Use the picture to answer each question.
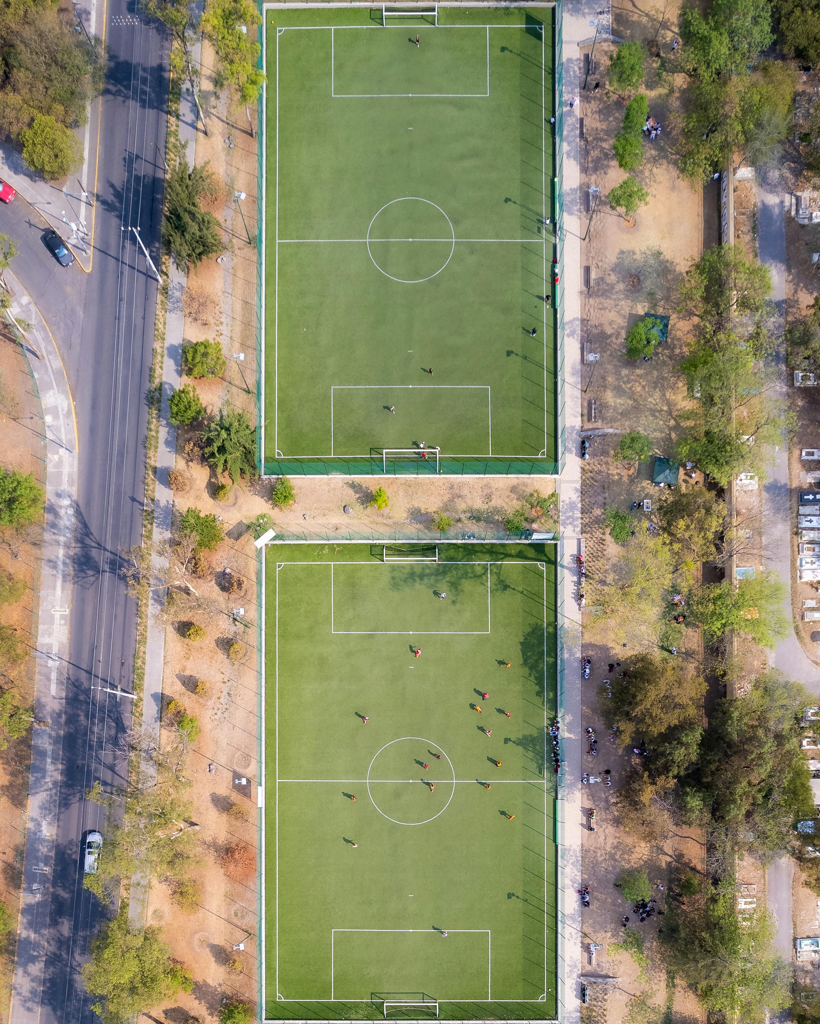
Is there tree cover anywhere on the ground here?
Yes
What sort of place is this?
sports ground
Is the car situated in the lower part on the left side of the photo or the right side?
left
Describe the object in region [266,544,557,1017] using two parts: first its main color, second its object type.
green soccer field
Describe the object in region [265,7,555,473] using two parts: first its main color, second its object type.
green soccer field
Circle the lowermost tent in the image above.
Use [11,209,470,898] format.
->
[648,457,680,487]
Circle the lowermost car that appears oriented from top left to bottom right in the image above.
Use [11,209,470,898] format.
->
[41,225,75,267]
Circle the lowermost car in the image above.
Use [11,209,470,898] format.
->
[83,831,104,875]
